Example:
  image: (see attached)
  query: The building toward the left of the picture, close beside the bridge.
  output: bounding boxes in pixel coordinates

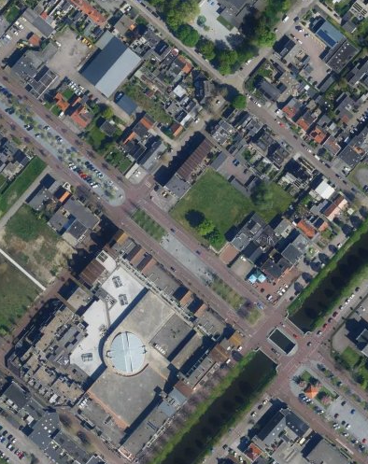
[6,238,245,463]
